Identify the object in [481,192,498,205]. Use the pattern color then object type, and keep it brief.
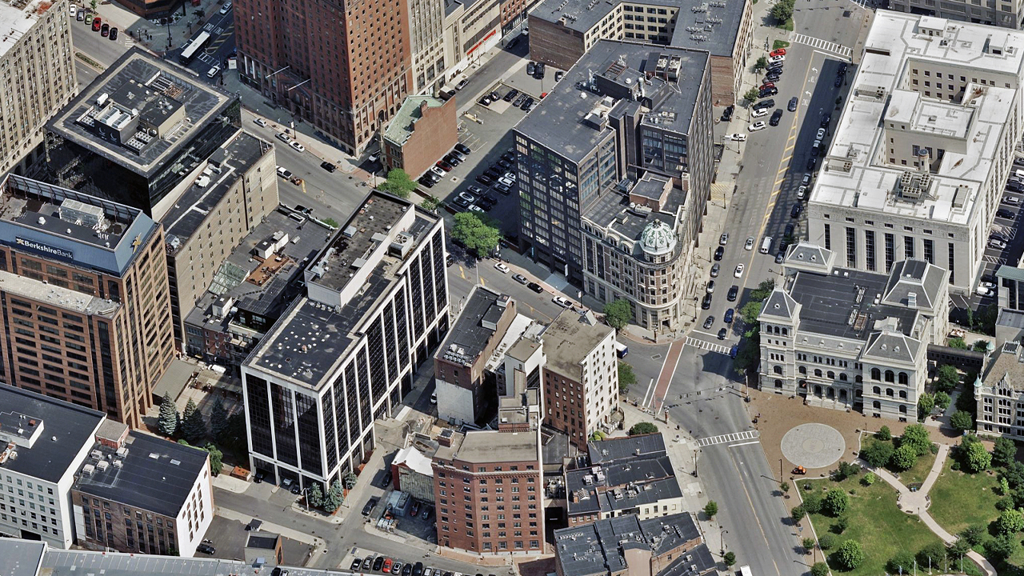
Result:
black vehicle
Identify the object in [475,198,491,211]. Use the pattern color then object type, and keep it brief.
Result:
black vehicle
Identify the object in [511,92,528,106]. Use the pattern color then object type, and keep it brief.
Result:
gray vehicle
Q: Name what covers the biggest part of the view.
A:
buildings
